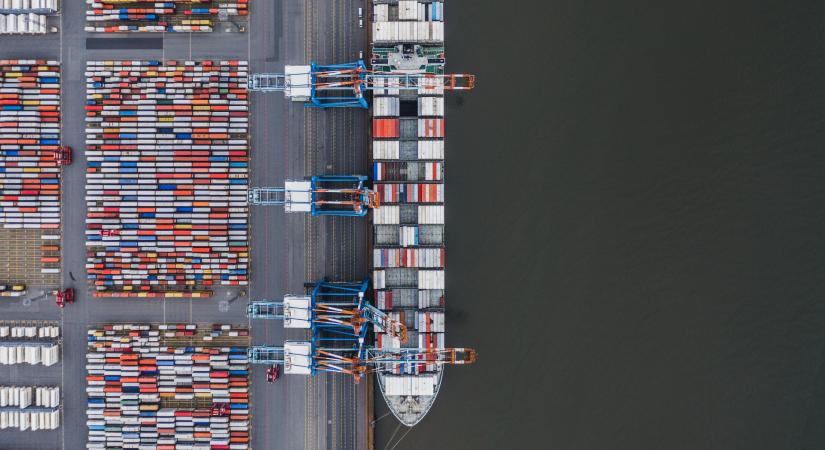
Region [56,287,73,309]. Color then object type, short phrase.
red work vehicle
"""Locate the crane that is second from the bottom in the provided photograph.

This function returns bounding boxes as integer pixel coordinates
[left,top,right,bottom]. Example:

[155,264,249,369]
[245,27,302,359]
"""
[250,275,408,341]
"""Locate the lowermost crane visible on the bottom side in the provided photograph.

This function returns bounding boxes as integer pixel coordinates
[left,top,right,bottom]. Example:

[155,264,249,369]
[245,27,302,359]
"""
[250,316,475,377]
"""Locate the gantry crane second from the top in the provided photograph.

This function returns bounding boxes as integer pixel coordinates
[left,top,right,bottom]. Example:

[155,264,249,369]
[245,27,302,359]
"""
[250,174,379,217]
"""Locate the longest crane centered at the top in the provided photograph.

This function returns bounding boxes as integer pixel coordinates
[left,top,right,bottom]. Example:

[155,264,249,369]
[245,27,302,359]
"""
[250,62,475,111]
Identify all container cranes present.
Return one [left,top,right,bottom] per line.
[250,316,475,377]
[250,174,379,217]
[250,275,408,341]
[250,62,475,111]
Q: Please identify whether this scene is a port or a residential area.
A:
port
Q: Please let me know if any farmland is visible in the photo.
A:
No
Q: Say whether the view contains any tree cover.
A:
No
